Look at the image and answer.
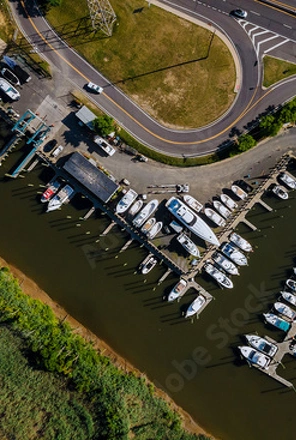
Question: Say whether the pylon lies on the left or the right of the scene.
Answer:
left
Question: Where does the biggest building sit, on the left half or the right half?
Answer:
left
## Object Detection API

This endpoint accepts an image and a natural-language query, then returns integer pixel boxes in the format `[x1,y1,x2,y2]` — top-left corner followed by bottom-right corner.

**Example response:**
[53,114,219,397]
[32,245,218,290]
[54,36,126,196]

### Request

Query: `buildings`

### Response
[63,150,120,203]
[75,105,94,128]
